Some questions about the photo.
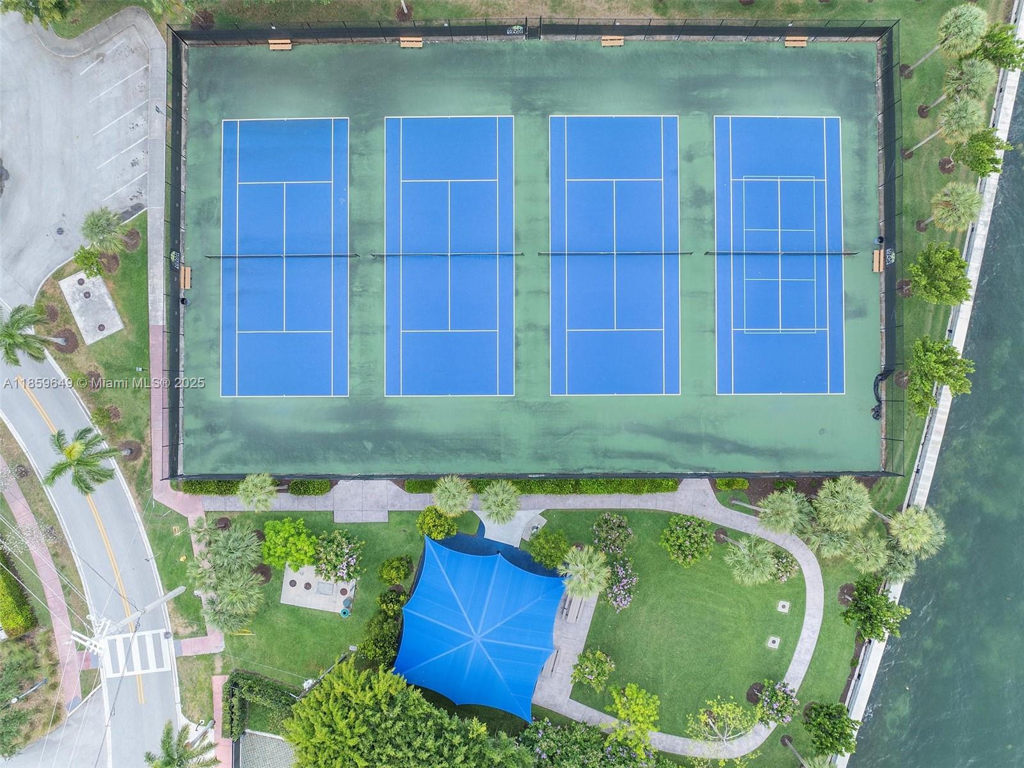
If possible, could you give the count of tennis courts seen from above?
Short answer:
4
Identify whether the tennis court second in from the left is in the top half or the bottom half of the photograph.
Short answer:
top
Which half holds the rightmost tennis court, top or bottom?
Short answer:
top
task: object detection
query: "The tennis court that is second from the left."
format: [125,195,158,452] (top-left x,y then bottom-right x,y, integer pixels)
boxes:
[371,117,526,395]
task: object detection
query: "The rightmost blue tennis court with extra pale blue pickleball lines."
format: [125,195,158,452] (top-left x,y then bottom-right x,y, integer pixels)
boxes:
[703,116,861,394]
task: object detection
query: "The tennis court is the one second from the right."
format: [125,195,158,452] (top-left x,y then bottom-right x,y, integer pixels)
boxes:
[539,116,694,394]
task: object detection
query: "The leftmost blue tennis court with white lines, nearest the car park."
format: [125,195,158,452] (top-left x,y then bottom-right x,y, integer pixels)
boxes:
[204,119,361,397]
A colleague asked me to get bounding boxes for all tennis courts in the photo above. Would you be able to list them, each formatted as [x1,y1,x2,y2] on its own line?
[371,117,526,395]
[204,119,361,397]
[539,116,694,394]
[703,116,861,394]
